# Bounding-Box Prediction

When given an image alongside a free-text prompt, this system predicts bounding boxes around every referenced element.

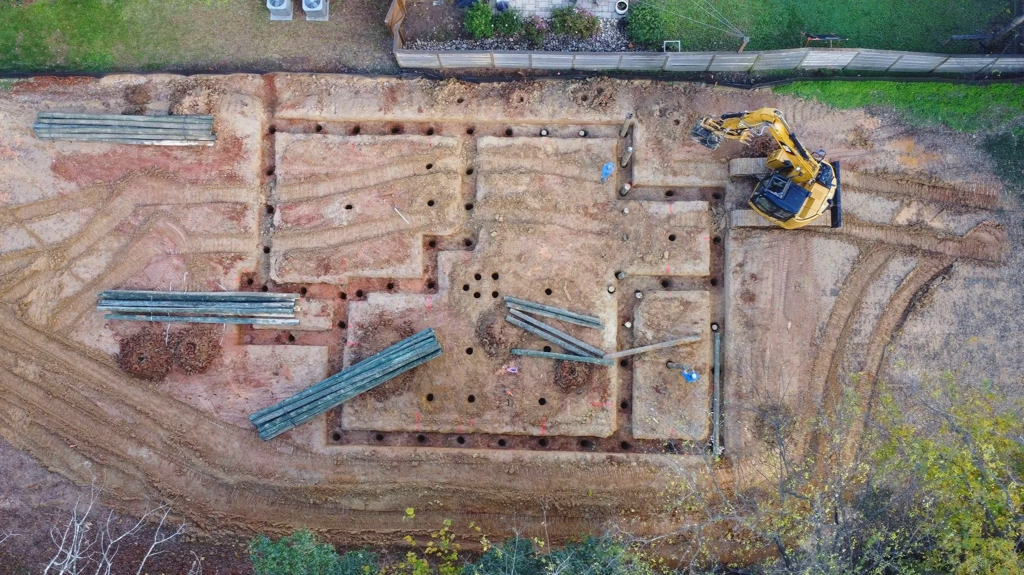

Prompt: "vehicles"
[693,95,845,234]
